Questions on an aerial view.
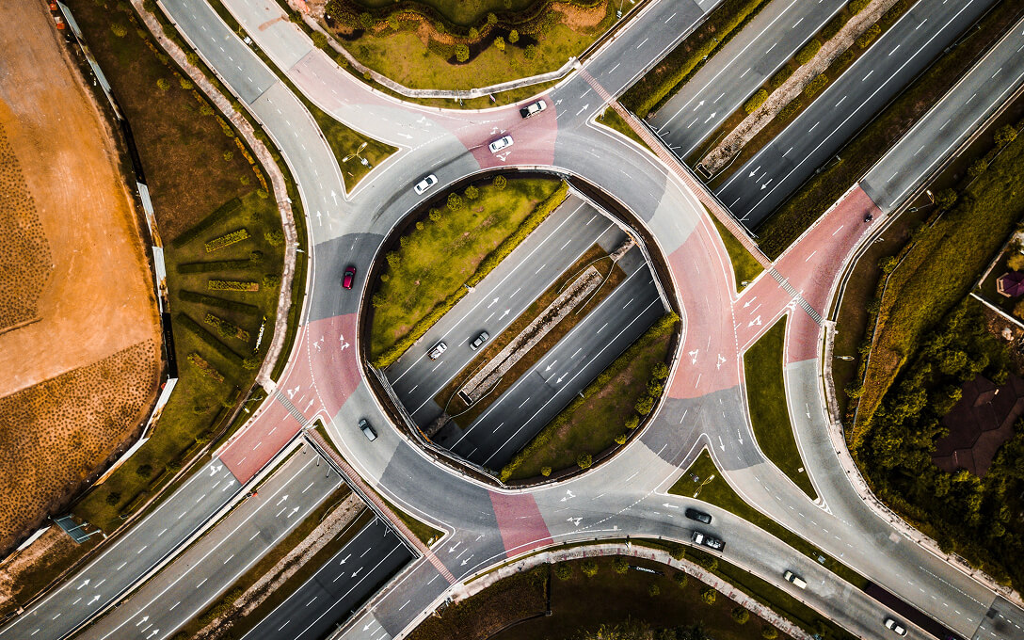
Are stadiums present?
No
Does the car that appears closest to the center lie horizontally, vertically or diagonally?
diagonally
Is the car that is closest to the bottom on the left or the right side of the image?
right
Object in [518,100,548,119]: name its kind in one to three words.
vehicle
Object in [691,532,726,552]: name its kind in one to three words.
vehicle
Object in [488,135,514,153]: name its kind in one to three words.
car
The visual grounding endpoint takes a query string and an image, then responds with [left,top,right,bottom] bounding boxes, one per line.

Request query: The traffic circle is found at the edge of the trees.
[220,79,785,584]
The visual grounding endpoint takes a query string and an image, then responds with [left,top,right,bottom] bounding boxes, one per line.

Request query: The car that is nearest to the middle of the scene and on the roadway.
[468,329,491,351]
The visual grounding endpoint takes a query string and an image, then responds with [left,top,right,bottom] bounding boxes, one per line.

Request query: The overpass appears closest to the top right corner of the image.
[561,97,776,317]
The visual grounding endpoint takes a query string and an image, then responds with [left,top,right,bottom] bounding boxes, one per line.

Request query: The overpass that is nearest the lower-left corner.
[300,361,499,559]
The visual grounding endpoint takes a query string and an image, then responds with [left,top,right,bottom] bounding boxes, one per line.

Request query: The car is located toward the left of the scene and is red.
[343,265,356,289]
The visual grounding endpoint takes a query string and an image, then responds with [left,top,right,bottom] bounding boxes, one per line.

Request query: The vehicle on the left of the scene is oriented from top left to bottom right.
[358,417,377,441]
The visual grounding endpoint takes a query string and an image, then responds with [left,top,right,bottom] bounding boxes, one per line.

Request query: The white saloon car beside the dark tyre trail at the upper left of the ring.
[412,174,439,194]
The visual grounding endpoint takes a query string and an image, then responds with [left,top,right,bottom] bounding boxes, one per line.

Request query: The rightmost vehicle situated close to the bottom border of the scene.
[881,616,908,636]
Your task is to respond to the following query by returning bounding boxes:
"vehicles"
[412,174,439,194]
[518,100,548,119]
[684,507,712,523]
[468,329,491,351]
[488,135,514,153]
[782,570,808,589]
[691,532,726,552]
[343,265,356,289]
[358,417,377,441]
[881,616,908,636]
